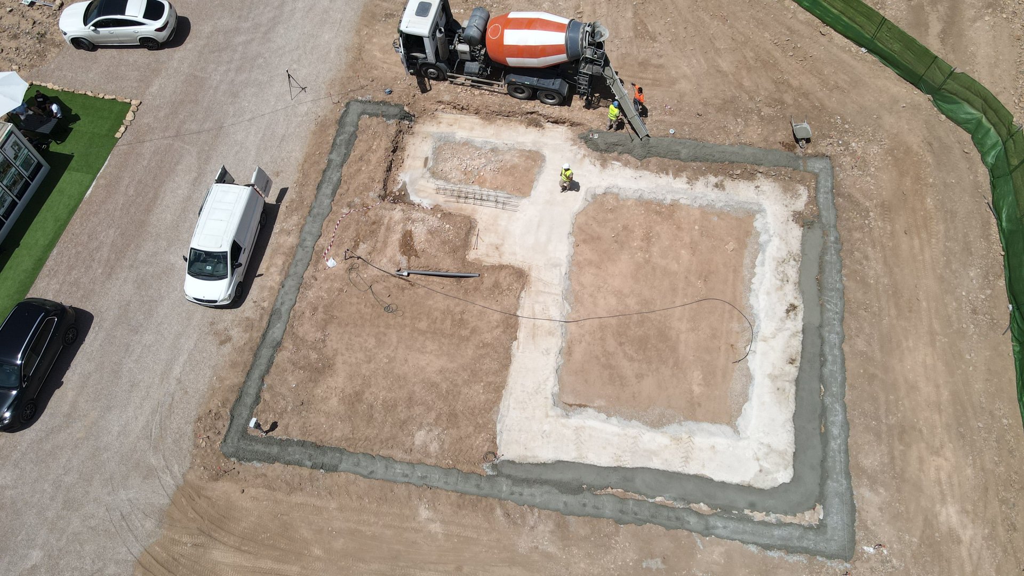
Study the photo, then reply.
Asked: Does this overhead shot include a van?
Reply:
Yes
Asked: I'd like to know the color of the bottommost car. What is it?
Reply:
black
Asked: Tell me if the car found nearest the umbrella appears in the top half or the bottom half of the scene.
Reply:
top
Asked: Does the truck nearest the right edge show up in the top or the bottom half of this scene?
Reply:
top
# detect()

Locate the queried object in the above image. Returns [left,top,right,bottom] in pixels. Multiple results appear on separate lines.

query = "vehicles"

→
[389,0,650,135]
[60,0,173,49]
[0,303,73,437]
[174,164,272,308]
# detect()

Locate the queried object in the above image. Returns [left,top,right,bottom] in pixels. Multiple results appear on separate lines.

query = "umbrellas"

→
[0,69,28,112]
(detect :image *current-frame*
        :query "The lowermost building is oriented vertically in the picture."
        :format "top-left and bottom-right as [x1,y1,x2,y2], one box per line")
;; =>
[0,123,48,240]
